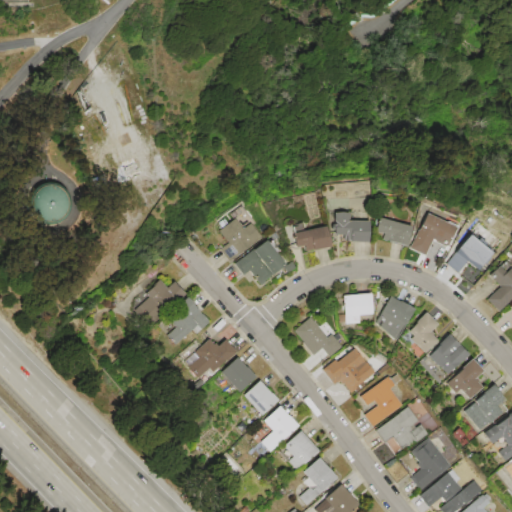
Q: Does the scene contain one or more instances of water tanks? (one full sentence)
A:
Yes, there's a water tank down there.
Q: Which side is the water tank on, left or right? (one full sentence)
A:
The water tank is on the left side of the image.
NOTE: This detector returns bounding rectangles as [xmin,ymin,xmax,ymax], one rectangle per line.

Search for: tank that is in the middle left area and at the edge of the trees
[33,183,72,220]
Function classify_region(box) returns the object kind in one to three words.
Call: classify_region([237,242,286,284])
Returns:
house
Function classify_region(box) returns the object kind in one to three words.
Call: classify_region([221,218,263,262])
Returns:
house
